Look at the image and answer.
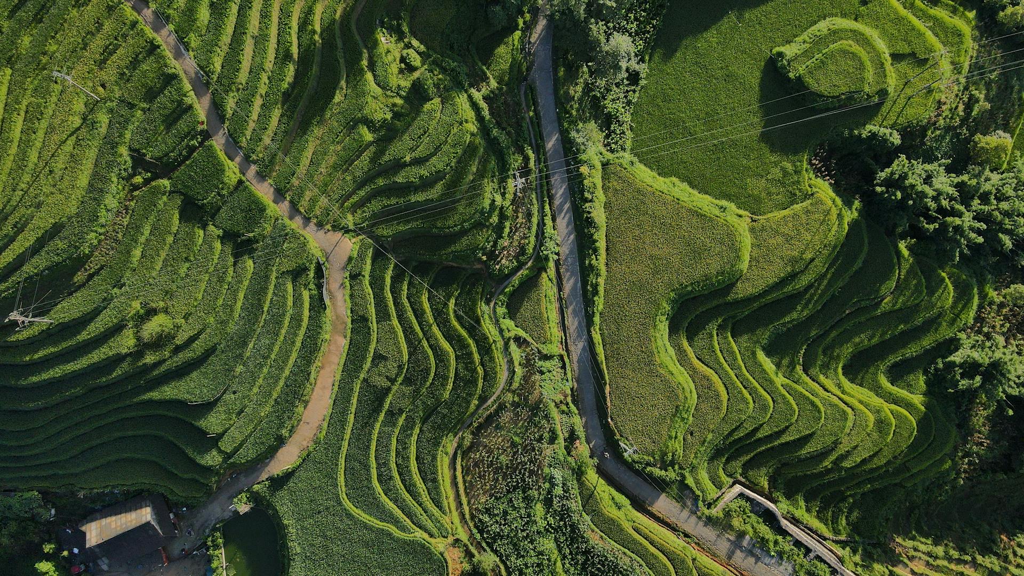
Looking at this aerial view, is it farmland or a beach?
farmland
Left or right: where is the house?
left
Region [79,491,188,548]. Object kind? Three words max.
house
